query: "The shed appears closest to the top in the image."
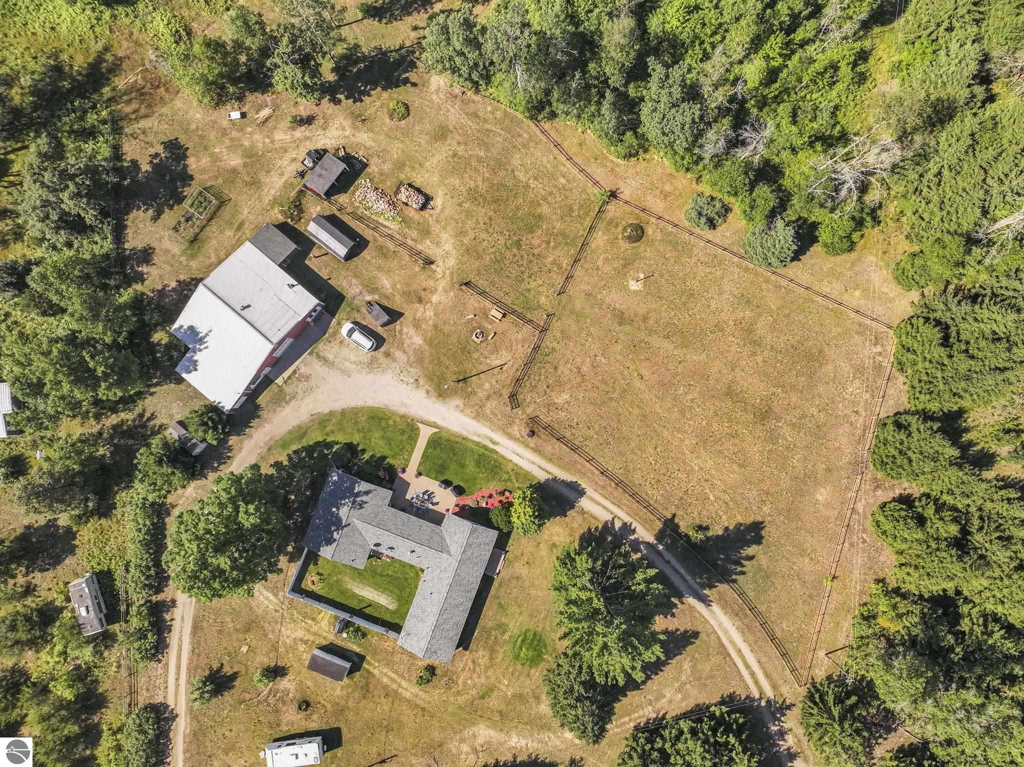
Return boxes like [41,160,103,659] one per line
[304,153,348,196]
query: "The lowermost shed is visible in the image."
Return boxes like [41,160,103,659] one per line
[307,644,353,682]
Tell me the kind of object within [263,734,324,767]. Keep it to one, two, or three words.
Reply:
vehicle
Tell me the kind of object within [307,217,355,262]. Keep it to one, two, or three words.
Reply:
shed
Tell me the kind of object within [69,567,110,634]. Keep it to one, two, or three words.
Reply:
vehicle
